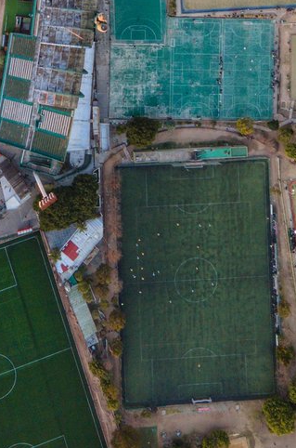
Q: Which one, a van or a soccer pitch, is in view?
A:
soccer pitch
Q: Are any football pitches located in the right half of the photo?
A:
Yes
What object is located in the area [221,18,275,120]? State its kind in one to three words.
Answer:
sports court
